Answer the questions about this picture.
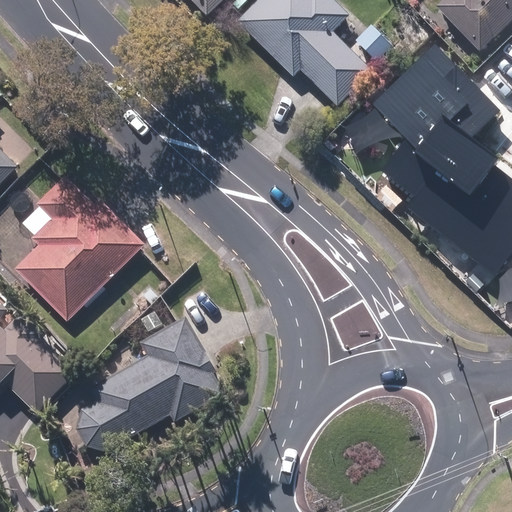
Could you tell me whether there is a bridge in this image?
No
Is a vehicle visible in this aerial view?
Yes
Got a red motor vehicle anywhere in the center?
No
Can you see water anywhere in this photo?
No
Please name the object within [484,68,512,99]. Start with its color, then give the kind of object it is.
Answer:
white car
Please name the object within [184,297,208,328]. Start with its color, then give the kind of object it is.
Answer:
white car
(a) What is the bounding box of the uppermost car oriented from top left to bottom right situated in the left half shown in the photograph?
[122,108,150,137]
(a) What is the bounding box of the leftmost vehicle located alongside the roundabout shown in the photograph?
[279,448,298,486]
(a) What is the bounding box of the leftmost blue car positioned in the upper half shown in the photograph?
[269,185,294,211]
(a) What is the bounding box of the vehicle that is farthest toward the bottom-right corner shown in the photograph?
[380,369,407,384]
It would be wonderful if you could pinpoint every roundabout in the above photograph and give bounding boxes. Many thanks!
[293,384,438,512]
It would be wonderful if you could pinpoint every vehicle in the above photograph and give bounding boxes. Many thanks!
[380,369,407,384]
[122,108,150,137]
[484,68,512,99]
[142,224,162,254]
[269,185,294,211]
[272,96,292,126]
[502,42,512,62]
[184,297,208,328]
[196,290,221,320]
[498,58,512,84]
[279,448,298,486]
